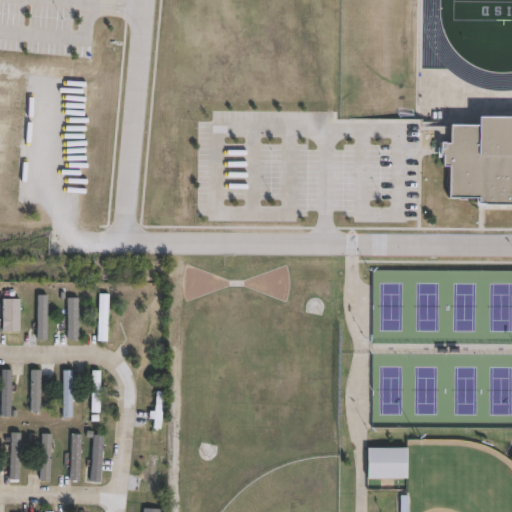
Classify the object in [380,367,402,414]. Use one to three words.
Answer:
tennis court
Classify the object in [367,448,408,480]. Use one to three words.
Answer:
building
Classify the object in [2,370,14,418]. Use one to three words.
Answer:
house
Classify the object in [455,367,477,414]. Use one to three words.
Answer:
tennis court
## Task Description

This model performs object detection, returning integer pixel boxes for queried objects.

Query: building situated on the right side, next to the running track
[440,116,512,210]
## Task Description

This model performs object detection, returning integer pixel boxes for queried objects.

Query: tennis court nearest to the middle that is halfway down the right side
[380,284,402,332]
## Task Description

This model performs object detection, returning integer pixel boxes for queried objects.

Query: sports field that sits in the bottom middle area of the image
[184,262,339,512]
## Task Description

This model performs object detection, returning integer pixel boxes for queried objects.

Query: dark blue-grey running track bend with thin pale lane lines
[423,0,512,90]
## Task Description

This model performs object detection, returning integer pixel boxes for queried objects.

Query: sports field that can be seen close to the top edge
[444,0,512,71]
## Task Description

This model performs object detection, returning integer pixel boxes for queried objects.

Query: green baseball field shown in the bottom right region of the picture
[406,439,512,512]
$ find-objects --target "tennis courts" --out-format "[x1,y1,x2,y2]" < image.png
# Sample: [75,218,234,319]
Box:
[455,367,477,414]
[415,367,437,414]
[490,284,512,332]
[416,284,438,332]
[380,284,402,332]
[380,367,402,414]
[490,367,512,414]
[454,284,476,332]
